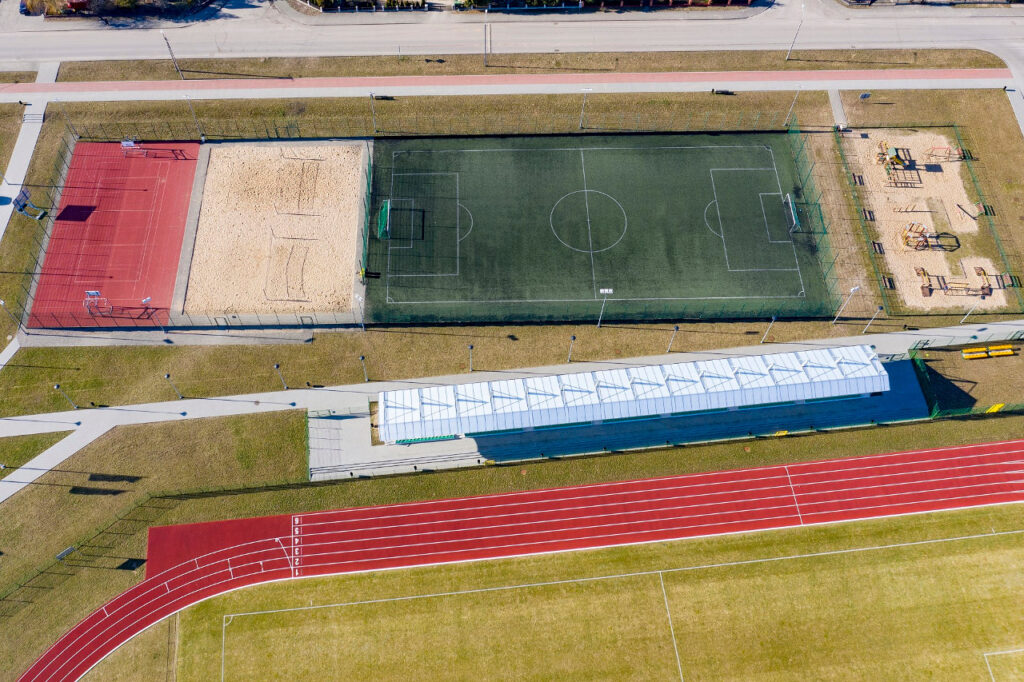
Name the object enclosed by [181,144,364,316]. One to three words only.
sports court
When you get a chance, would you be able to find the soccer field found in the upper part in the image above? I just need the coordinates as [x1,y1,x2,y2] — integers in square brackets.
[364,131,834,321]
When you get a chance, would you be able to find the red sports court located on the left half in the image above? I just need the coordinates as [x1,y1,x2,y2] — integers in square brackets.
[28,142,200,326]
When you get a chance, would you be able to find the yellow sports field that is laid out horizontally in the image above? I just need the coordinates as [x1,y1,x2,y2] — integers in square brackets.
[177,504,1024,682]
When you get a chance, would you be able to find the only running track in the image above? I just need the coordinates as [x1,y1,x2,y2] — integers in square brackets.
[14,439,1024,682]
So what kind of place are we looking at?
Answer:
sports ground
